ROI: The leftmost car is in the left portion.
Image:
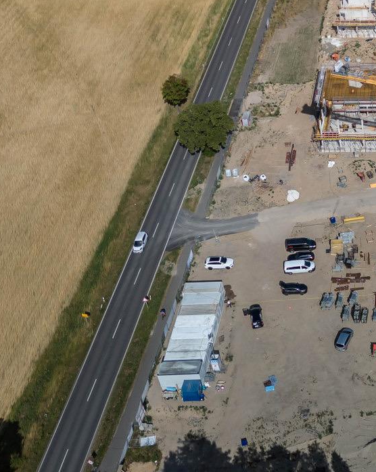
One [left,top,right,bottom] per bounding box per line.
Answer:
[131,231,148,251]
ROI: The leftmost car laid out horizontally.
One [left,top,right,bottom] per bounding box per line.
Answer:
[205,256,233,269]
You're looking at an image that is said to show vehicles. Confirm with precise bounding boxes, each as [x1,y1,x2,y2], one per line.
[131,231,148,251]
[287,250,314,261]
[245,305,263,326]
[285,237,316,252]
[205,256,233,269]
[283,258,314,273]
[332,328,354,351]
[277,280,307,294]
